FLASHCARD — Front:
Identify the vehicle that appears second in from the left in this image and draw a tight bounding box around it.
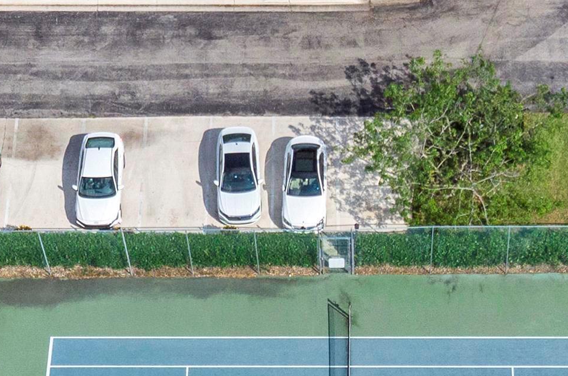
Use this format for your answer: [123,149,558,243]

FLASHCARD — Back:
[212,125,265,226]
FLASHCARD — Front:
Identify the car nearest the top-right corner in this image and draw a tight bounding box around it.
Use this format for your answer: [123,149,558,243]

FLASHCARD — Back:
[278,133,331,232]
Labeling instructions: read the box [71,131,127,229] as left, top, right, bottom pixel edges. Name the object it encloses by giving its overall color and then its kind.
white car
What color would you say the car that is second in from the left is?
white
